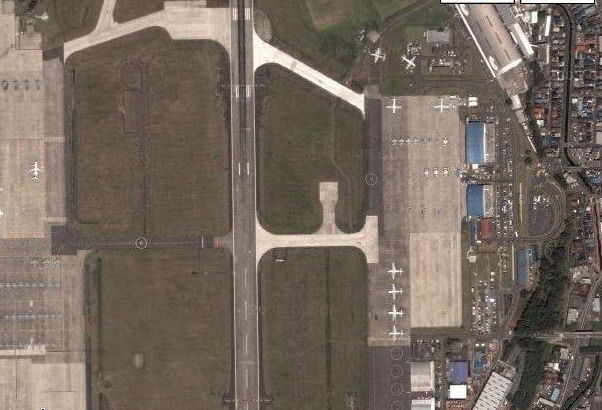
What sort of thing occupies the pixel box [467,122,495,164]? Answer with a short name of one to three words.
hangar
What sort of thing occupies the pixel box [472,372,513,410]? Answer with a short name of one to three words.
building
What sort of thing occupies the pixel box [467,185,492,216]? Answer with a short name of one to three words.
hangar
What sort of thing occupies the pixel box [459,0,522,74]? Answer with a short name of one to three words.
building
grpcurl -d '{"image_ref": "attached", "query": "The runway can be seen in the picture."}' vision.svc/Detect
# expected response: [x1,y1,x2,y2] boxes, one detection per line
[221,0,271,410]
